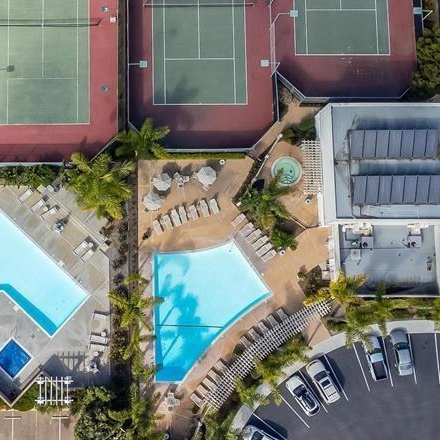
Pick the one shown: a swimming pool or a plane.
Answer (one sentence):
It is a swimming pool that can be seen here.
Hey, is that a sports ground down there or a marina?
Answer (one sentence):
The area seen from above is a sports ground.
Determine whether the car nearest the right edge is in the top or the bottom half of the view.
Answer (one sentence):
It is in the bottom half that the car nearest the right edge appears.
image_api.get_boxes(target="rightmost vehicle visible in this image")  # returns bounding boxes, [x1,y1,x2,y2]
[389,330,414,377]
